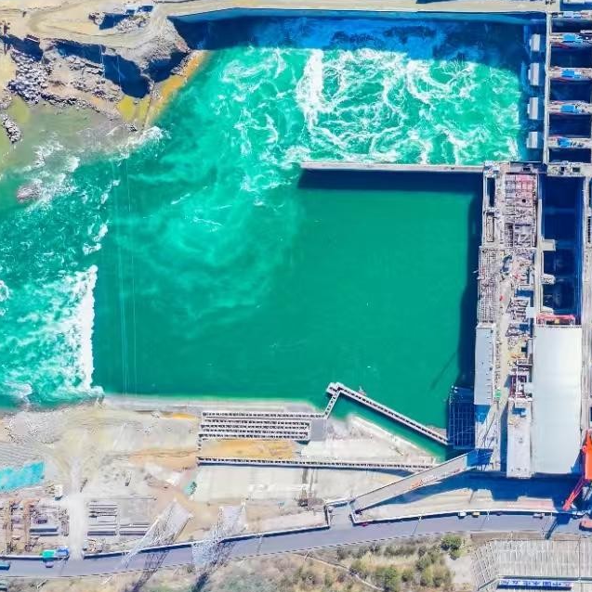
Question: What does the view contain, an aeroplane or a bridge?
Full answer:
I can see a bridge in this picture.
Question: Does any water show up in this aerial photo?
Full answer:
Yes, there is water in the image.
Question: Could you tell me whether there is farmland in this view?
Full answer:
No, there is no farmland in the image.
